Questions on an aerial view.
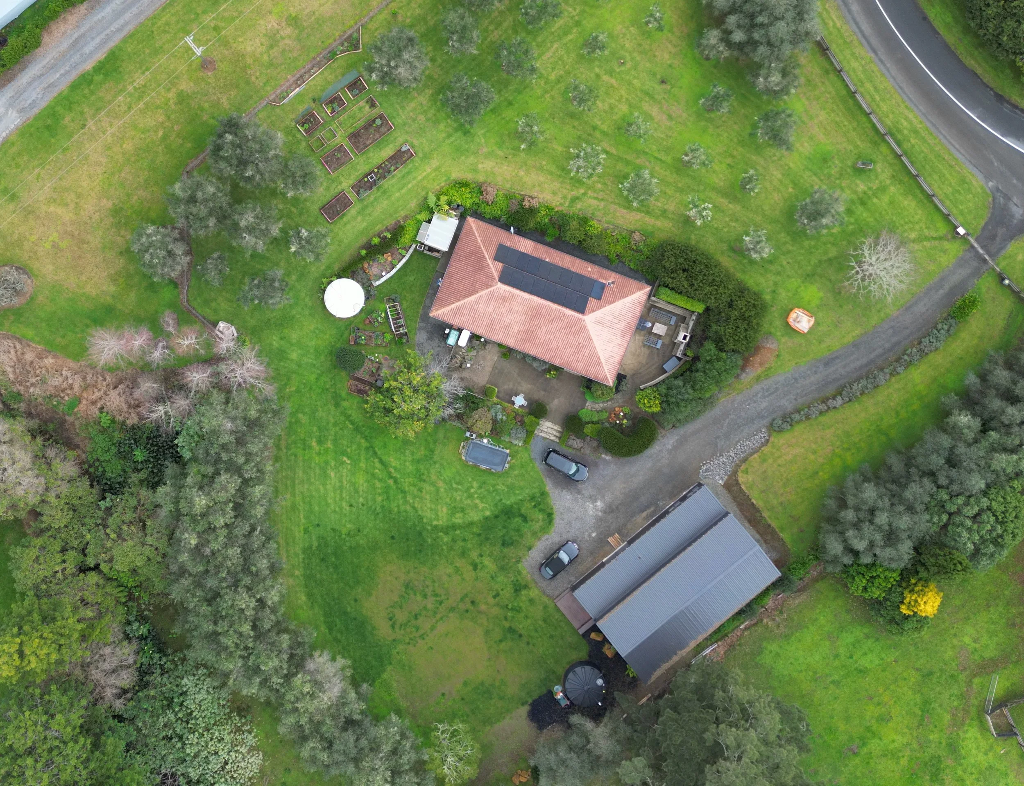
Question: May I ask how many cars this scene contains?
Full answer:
My tally gives 2 cars in this view.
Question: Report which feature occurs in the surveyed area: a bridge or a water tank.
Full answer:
Of the two, only a water tank appears.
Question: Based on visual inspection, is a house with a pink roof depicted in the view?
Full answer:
Yes, the picture does show a house with a pink roof.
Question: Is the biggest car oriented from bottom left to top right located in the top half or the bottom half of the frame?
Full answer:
The biggest car oriented from bottom left to top right sits in the bottom half of the picture.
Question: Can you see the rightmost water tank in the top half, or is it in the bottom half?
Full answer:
The bottom half of the photo is where the rightmost water tank is.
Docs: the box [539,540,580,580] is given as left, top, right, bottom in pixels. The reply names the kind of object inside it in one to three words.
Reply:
car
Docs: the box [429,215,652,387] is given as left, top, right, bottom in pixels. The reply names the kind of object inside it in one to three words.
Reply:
house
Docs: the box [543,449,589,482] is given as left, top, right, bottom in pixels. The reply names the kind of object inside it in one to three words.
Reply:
car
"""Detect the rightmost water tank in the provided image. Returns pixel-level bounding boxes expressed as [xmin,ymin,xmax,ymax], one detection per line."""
[564,661,608,707]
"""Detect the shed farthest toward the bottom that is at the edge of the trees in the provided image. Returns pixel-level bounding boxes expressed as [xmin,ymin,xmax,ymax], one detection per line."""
[571,482,782,685]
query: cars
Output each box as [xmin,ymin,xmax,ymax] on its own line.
[539,540,580,580]
[543,449,589,482]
